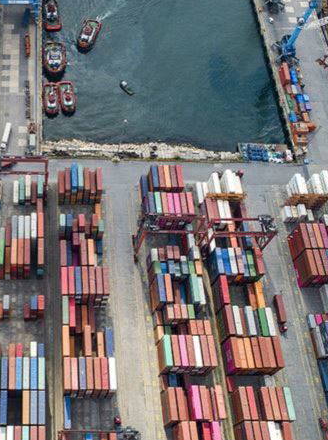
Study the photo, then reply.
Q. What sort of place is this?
port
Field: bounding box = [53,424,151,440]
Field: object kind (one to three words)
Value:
container crane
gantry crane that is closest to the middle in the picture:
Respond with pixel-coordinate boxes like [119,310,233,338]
[132,211,212,258]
